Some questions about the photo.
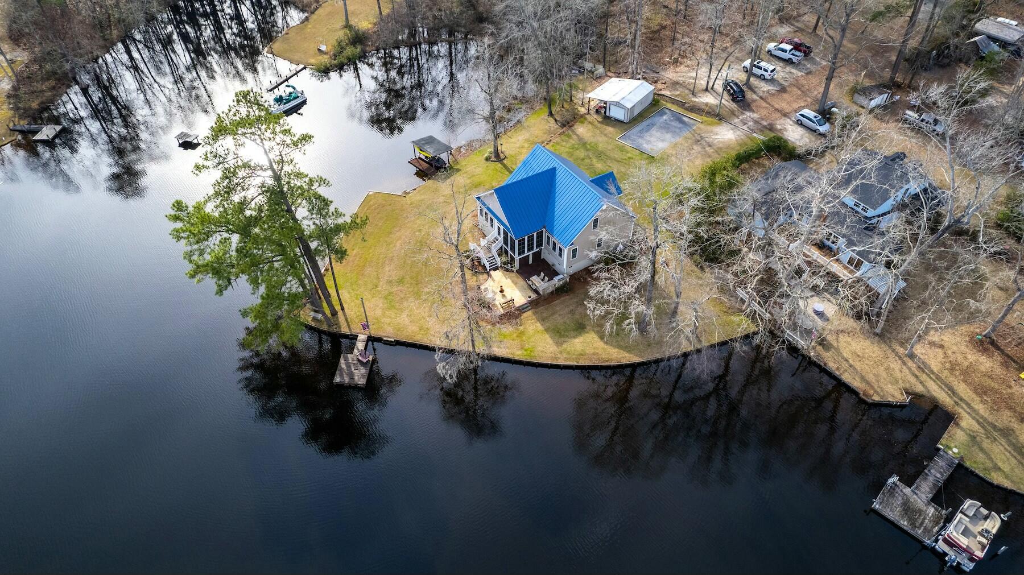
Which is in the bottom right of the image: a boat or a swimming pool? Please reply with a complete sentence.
Visible in the bottom right of the image is a boat.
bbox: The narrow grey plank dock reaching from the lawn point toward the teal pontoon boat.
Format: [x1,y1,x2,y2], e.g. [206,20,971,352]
[263,64,307,94]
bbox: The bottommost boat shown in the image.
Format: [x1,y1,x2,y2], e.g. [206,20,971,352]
[932,495,1003,575]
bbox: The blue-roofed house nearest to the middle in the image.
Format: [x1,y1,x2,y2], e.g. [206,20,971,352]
[472,143,637,292]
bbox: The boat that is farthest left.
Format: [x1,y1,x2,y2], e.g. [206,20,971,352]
[265,86,306,115]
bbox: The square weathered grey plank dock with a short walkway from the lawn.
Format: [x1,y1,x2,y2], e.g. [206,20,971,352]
[333,335,373,387]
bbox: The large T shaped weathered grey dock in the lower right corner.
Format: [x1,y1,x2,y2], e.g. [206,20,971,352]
[870,444,963,542]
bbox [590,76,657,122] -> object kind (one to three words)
building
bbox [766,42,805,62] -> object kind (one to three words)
vehicle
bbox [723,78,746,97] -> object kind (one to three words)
car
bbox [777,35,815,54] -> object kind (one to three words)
vehicle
